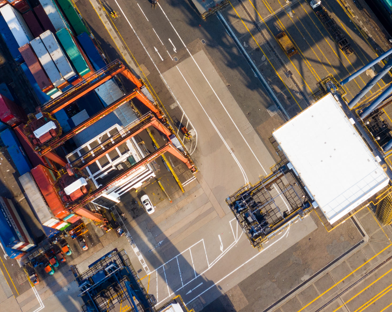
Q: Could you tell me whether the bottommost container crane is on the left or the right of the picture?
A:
left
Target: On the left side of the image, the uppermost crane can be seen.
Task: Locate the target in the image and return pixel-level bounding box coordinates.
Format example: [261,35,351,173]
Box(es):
[19,59,168,171]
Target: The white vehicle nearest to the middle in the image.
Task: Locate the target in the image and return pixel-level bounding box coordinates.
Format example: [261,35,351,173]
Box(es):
[140,195,156,215]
